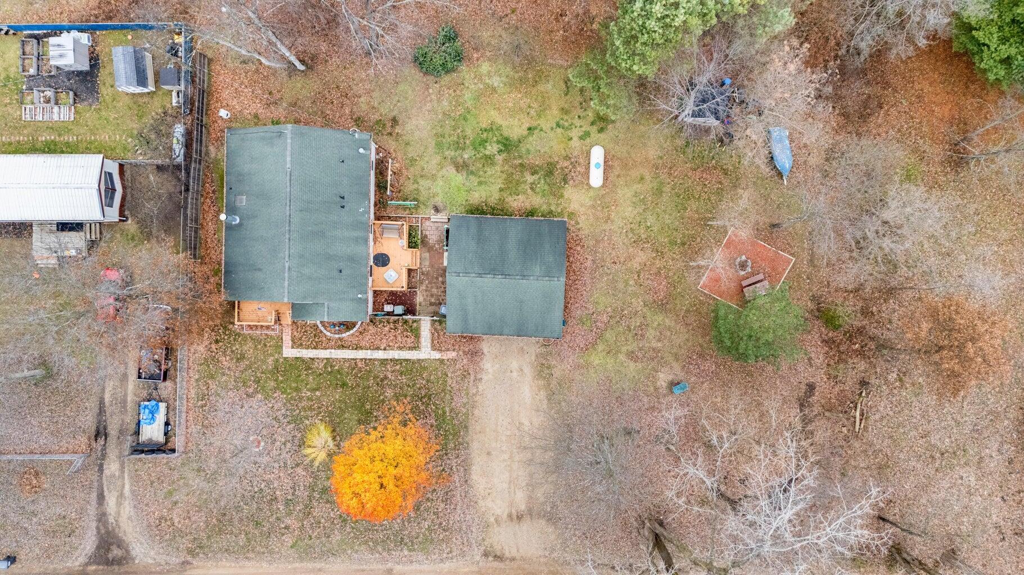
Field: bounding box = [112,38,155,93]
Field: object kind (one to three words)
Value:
shed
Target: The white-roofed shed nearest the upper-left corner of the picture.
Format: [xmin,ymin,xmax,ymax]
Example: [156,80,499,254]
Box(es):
[50,34,89,71]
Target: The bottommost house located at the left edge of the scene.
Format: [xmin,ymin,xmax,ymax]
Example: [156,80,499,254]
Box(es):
[0,154,129,223]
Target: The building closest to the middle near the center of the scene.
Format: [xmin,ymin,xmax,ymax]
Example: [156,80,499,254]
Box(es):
[444,213,568,342]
